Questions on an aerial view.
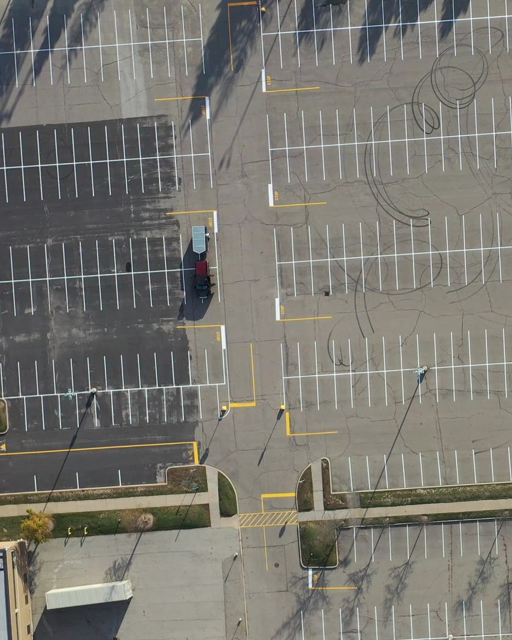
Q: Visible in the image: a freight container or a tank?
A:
freight container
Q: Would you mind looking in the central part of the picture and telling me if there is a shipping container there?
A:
No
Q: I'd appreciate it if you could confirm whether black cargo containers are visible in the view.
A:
No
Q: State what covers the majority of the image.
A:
paved ground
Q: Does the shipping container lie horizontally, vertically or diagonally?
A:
horizontally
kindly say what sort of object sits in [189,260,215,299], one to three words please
truck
